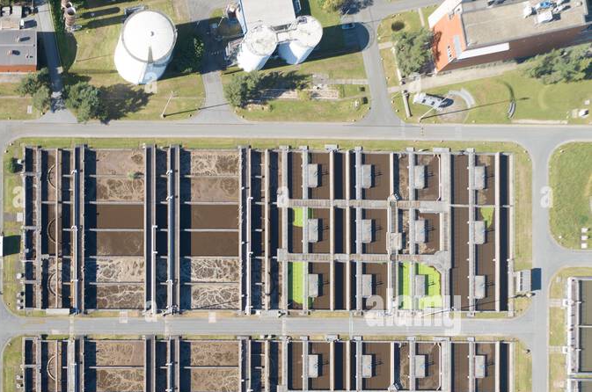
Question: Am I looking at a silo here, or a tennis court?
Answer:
silo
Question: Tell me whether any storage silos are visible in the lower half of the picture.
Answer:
No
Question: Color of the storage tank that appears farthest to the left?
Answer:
white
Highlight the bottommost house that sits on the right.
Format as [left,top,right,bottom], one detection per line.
[513,270,531,293]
